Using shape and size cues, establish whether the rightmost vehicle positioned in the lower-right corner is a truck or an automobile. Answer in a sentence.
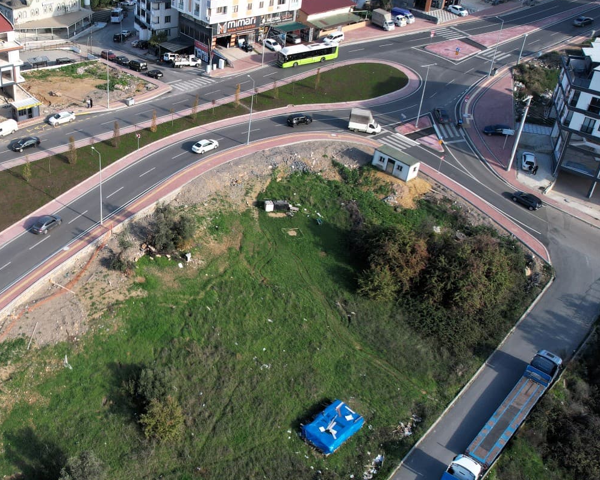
The rightmost vehicle positioned in the lower-right corner can be classified as a truck.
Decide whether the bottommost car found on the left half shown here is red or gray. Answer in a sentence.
The bottommost car found on the left half looks gray in the image.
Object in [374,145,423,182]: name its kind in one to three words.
building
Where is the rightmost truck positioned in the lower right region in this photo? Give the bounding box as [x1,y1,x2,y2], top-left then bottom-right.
[471,338,577,464]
